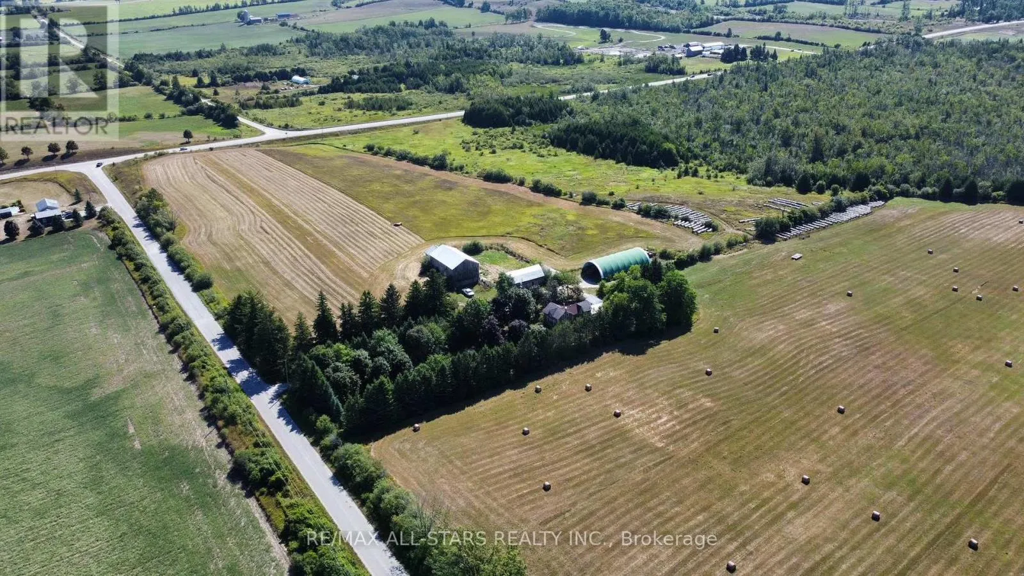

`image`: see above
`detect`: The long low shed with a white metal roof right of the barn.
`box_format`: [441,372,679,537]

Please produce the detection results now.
[503,265,546,291]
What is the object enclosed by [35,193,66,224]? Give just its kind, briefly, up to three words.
house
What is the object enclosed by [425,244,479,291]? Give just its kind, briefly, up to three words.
barn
